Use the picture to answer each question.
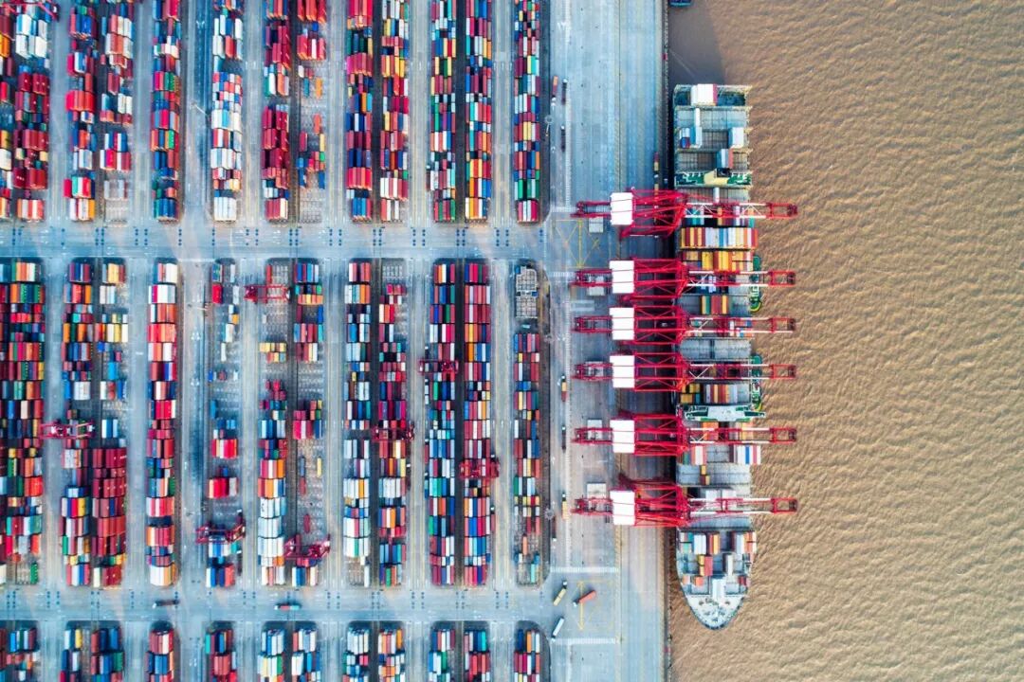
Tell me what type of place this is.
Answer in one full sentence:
The area seen from above is a port.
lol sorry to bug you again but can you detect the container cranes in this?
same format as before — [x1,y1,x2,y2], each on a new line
[568,190,794,242]
[285,536,332,560]
[568,258,795,305]
[569,409,796,454]
[459,454,501,475]
[569,305,795,349]
[418,359,461,378]
[569,350,796,393]
[197,518,248,541]
[372,421,417,441]
[569,475,797,526]
[244,284,294,304]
